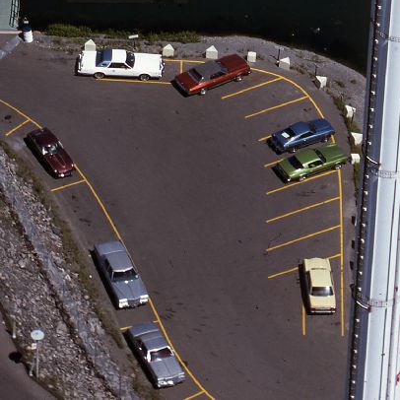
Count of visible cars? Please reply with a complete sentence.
In total, 8 cars can be seen.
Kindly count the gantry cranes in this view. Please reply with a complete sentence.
I count no gantry cranes.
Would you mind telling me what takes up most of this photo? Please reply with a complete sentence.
The scene is dominated by paved ground.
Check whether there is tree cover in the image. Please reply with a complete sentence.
No, no tree cover is visible.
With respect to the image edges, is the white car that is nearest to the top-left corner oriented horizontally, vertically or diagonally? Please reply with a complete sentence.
The white car that is nearest to the top-left corner is laid out horizontally.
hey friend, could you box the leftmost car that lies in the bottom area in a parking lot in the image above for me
[93,240,146,307]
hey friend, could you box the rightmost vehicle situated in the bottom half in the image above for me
[304,259,336,314]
